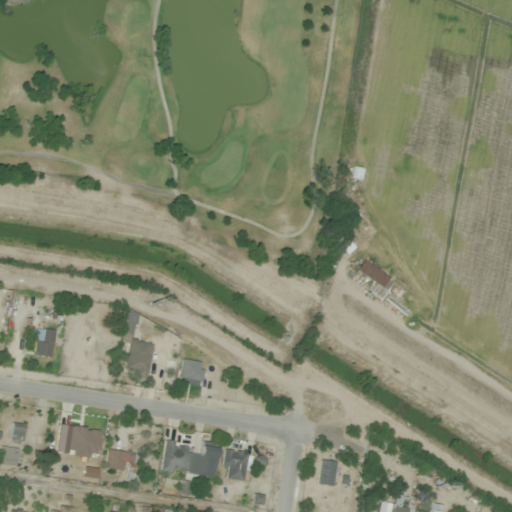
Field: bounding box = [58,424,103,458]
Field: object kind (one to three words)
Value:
house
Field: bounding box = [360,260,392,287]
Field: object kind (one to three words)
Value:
barn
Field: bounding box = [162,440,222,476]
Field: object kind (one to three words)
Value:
house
